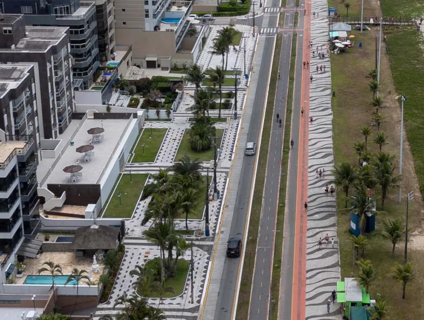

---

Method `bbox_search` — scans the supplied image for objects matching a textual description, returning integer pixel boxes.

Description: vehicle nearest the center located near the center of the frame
[245,140,257,153]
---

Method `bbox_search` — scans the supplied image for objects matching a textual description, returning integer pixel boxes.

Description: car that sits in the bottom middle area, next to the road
[226,235,242,257]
